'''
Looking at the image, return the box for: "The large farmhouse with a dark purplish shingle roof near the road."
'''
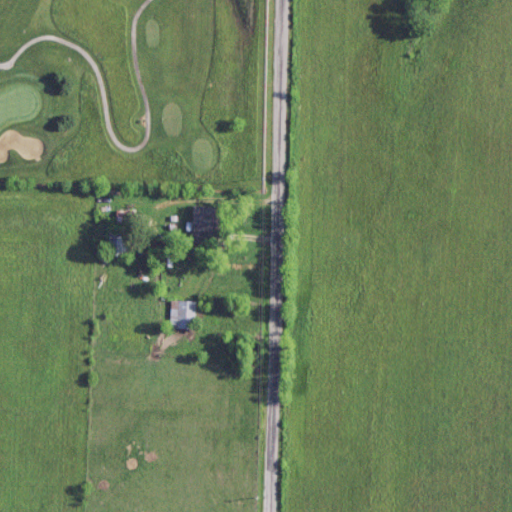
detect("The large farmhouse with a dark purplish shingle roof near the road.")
[194,203,218,237]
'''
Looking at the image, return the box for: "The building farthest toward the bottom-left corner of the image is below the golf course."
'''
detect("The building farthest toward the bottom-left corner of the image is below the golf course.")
[170,301,196,332]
